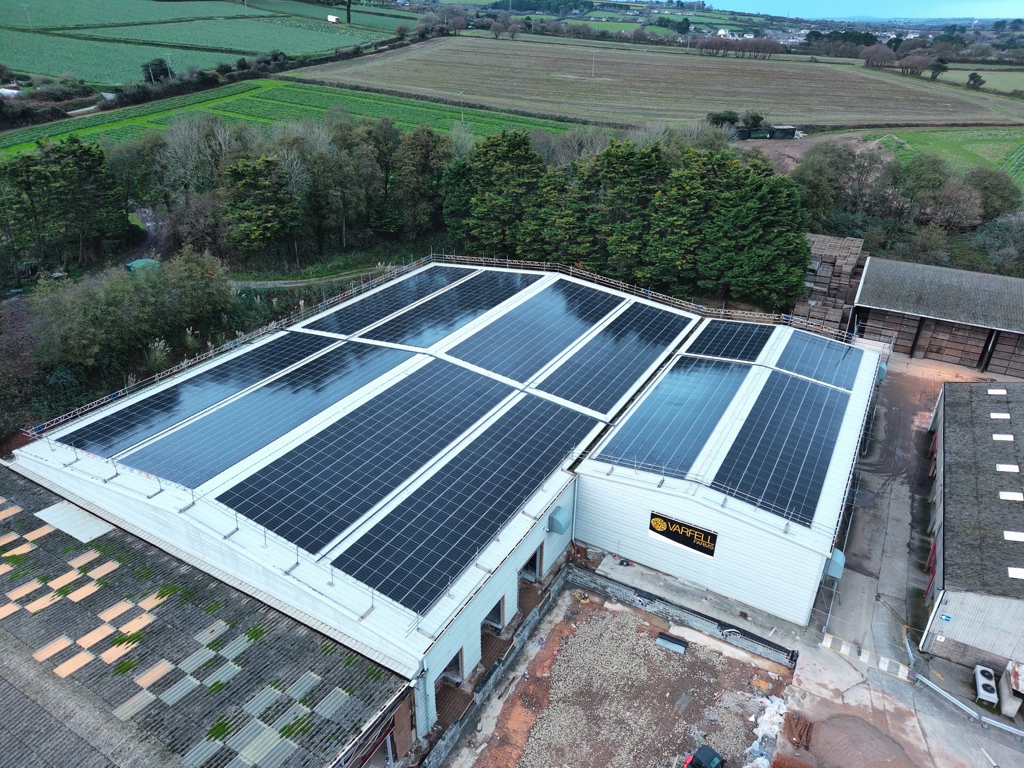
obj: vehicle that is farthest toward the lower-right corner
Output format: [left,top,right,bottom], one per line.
[686,746,730,768]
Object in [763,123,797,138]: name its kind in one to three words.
shed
